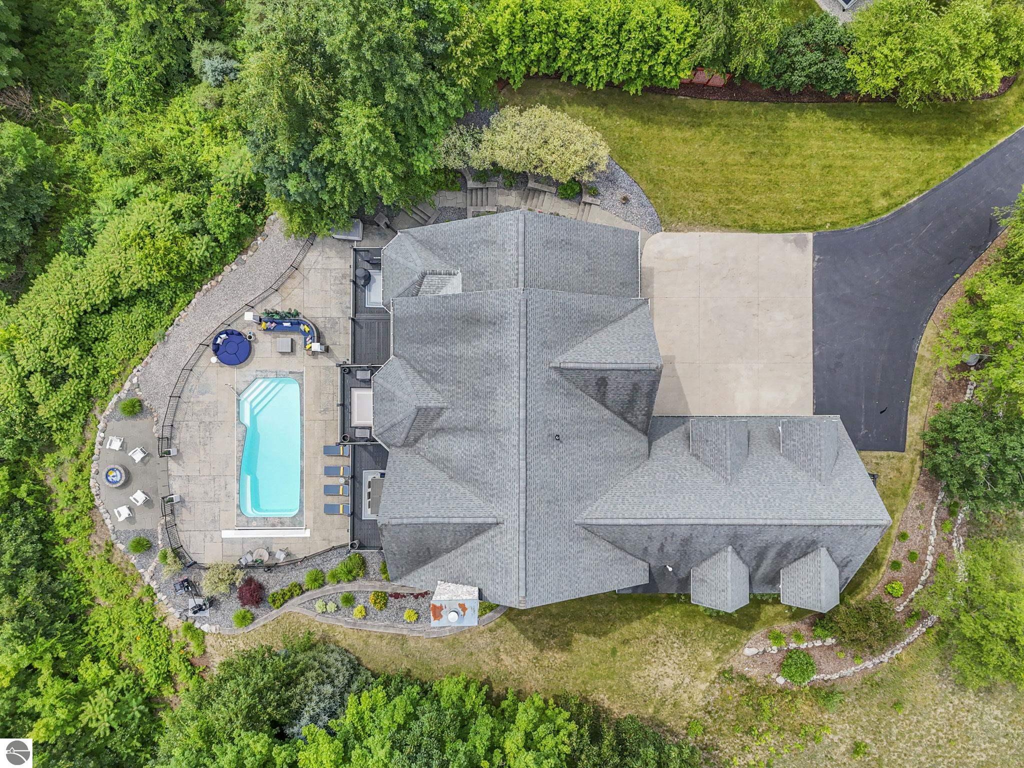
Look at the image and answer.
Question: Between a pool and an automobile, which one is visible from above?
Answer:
pool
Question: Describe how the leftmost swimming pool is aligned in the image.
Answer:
vertically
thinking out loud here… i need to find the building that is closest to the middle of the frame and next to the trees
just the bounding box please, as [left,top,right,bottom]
[370,209,892,627]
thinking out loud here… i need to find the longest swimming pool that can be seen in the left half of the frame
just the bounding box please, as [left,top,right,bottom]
[237,372,303,526]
